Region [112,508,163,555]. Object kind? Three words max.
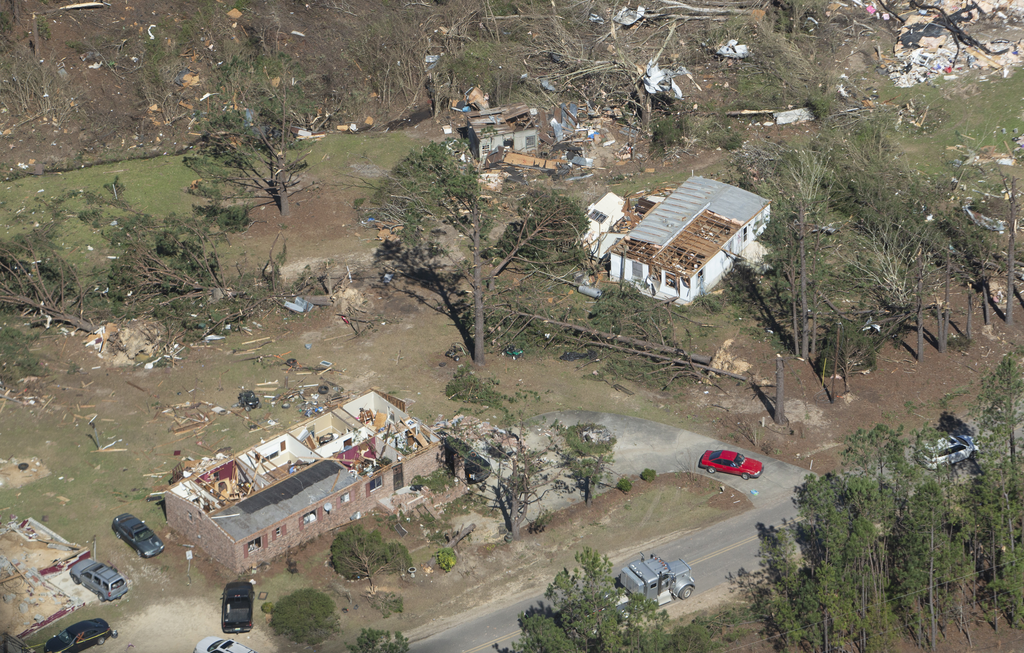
car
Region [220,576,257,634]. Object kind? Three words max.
truck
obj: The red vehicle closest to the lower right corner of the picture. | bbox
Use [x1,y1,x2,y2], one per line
[698,447,766,478]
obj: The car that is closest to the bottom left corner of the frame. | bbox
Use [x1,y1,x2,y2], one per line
[40,612,113,653]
